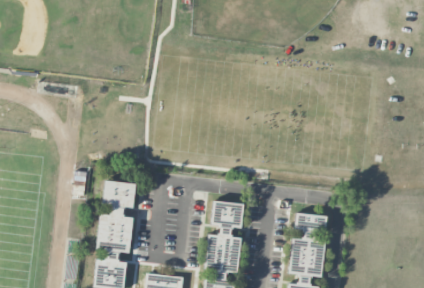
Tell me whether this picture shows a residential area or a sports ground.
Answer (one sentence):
The picture captures a sports ground.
